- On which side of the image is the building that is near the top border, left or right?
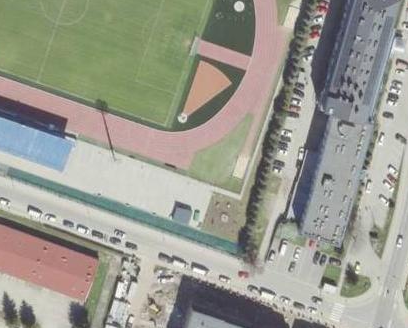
right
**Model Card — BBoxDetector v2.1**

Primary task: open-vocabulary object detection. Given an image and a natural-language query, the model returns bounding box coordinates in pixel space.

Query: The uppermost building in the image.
[320,0,402,121]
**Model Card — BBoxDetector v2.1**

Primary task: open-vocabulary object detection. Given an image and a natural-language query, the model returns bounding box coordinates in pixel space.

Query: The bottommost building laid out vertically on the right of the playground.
[299,102,371,247]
